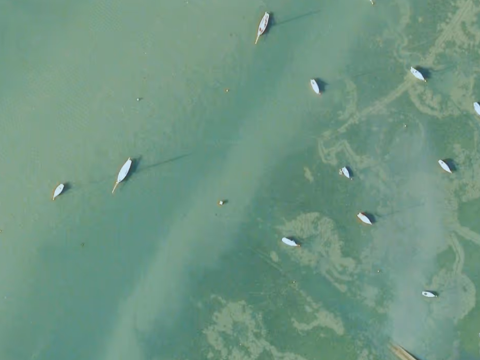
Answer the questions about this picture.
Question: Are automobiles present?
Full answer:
No, there is no automobile in the image.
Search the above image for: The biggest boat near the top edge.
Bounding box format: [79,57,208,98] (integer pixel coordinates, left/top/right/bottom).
[256,11,269,40]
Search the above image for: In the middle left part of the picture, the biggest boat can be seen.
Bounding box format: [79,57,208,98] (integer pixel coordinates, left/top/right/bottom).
[111,157,133,192]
